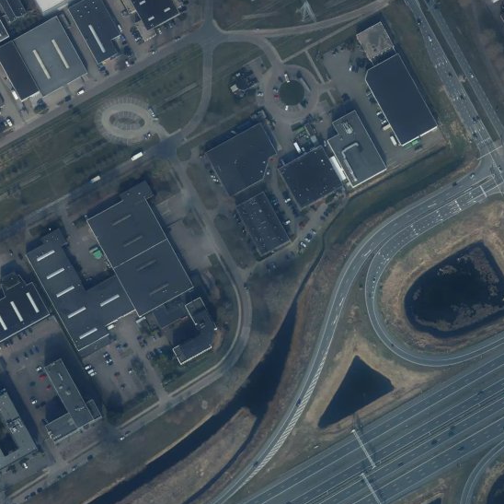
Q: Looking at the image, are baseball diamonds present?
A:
No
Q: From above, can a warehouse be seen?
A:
Yes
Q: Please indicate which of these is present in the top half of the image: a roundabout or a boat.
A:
roundabout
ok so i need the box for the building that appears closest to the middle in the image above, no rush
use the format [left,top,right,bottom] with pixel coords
[236,192,291,258]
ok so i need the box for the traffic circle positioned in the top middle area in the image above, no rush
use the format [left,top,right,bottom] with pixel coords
[264,63,320,119]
